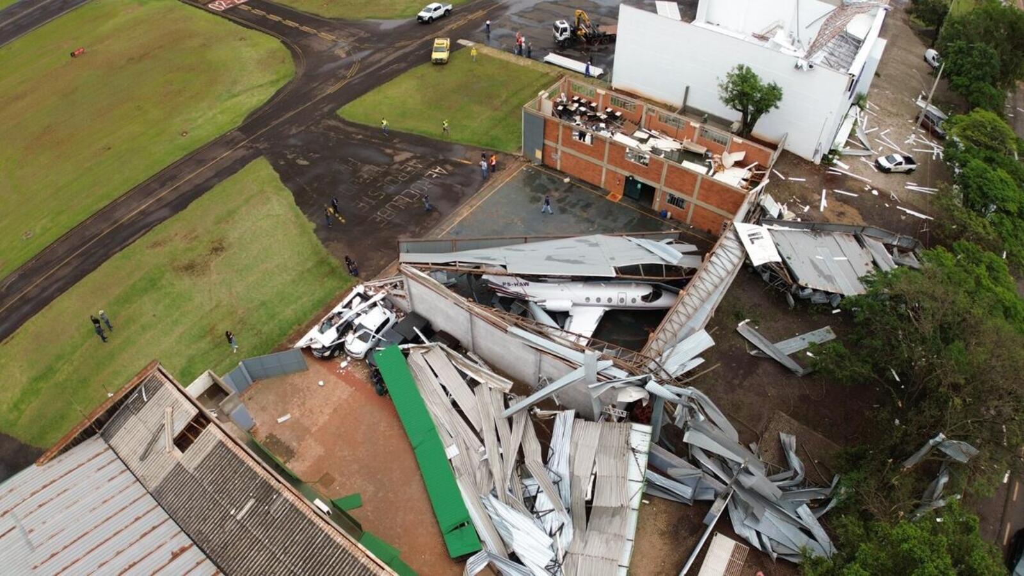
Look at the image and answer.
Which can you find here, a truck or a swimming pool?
truck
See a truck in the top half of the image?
Yes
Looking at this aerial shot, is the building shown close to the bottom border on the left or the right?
left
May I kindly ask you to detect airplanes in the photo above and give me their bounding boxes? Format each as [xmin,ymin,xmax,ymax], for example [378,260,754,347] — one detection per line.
[471,269,678,356]
[531,303,558,334]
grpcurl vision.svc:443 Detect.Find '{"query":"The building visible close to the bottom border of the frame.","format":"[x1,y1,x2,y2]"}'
[0,358,405,576]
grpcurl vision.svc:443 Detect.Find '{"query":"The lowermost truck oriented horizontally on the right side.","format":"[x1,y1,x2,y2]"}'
[871,151,930,175]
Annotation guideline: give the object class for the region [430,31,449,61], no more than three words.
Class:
vehicle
